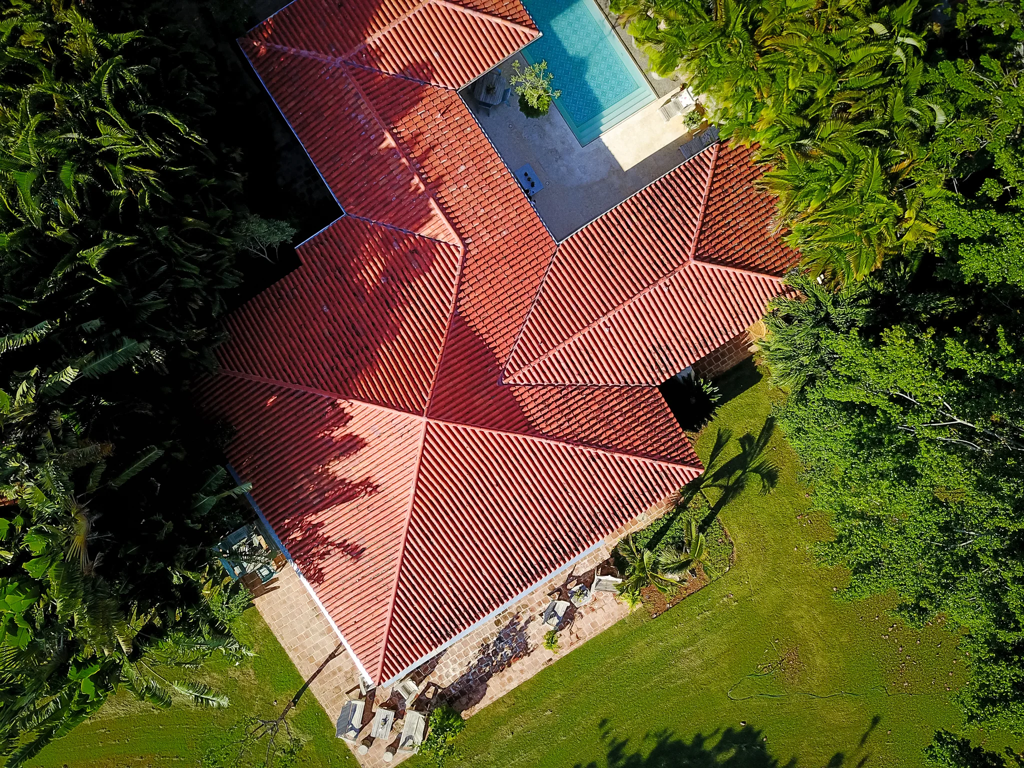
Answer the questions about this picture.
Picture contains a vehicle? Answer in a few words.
No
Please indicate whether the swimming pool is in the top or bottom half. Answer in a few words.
top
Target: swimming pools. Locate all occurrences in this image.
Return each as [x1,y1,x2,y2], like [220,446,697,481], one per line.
[520,0,671,151]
